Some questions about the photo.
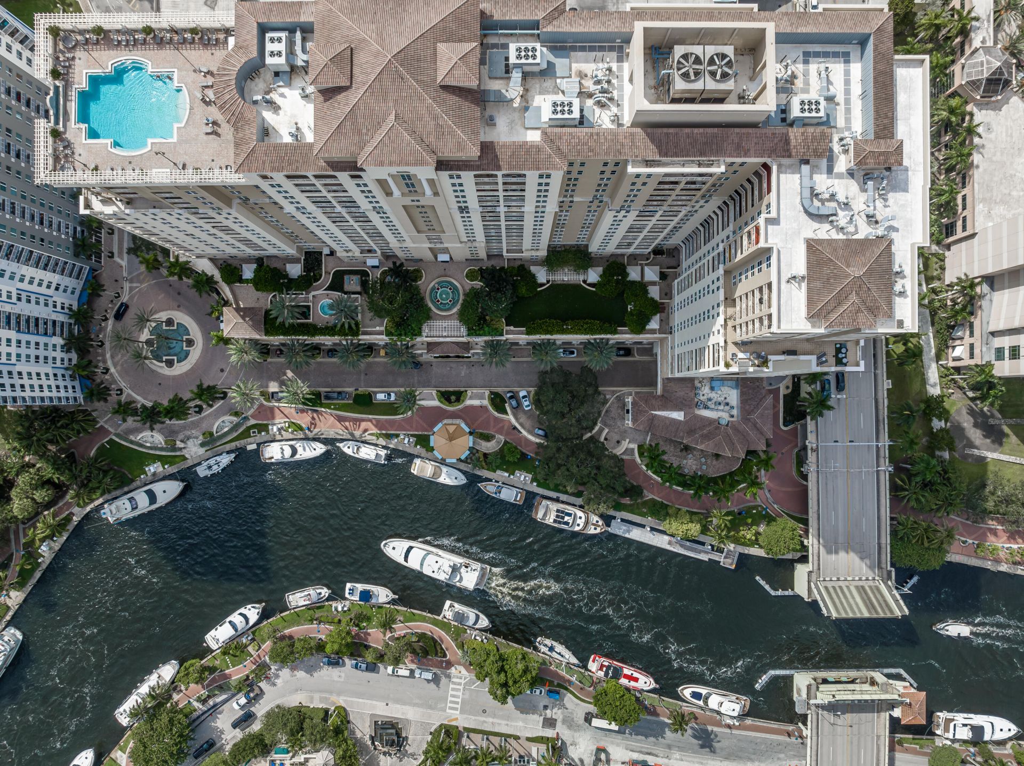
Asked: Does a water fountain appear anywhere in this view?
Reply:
Yes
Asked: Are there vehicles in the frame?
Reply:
Yes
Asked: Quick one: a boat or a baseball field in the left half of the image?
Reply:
boat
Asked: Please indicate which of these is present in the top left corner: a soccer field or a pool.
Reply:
pool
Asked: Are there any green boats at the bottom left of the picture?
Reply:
No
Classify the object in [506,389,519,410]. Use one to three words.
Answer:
vehicle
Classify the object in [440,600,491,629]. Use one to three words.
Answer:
boat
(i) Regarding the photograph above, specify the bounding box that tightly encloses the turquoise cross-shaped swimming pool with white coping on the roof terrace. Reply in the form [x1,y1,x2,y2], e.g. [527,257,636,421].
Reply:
[71,57,190,156]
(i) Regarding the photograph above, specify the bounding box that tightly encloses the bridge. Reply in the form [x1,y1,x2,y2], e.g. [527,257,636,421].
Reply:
[785,336,911,766]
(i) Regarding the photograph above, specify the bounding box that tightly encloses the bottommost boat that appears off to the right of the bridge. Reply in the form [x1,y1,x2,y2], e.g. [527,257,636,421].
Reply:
[926,709,1024,743]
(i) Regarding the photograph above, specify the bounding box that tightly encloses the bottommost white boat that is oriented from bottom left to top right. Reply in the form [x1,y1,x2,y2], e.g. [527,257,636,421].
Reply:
[66,746,98,766]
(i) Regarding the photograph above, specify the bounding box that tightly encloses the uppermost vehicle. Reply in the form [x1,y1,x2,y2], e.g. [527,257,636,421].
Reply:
[114,300,130,322]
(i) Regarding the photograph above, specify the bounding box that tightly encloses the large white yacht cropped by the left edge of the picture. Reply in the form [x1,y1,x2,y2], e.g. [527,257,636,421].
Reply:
[0,622,31,680]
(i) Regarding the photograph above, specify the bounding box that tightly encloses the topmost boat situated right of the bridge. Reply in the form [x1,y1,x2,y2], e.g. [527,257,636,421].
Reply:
[930,622,973,638]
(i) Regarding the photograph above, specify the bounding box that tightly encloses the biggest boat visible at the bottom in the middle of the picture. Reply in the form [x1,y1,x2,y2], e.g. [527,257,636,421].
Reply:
[379,542,497,595]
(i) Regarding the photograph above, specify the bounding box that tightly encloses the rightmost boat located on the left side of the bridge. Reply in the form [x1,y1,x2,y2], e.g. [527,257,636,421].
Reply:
[677,683,752,718]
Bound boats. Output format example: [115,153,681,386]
[198,453,239,477]
[930,622,973,638]
[337,442,390,465]
[104,481,187,528]
[677,683,752,718]
[528,498,608,535]
[203,603,266,650]
[346,581,398,603]
[440,600,491,629]
[478,482,528,505]
[535,636,581,677]
[0,622,31,680]
[409,457,467,486]
[287,585,330,609]
[585,653,659,690]
[114,661,181,727]
[926,709,1024,743]
[379,542,497,595]
[66,746,98,766]
[260,439,328,463]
